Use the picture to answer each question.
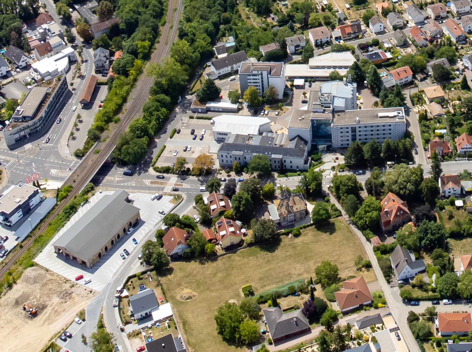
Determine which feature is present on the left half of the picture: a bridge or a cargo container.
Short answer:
bridge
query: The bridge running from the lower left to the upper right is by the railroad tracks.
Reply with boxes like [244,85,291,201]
[64,146,114,193]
